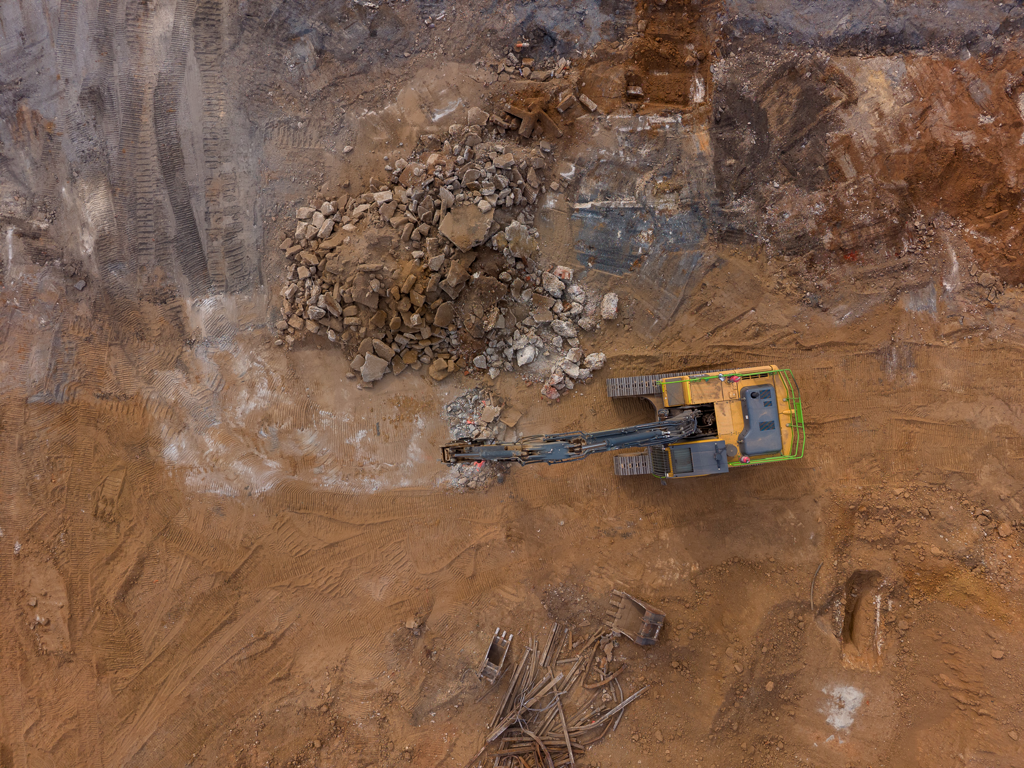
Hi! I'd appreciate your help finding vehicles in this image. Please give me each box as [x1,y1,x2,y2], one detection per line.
[438,365,806,485]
